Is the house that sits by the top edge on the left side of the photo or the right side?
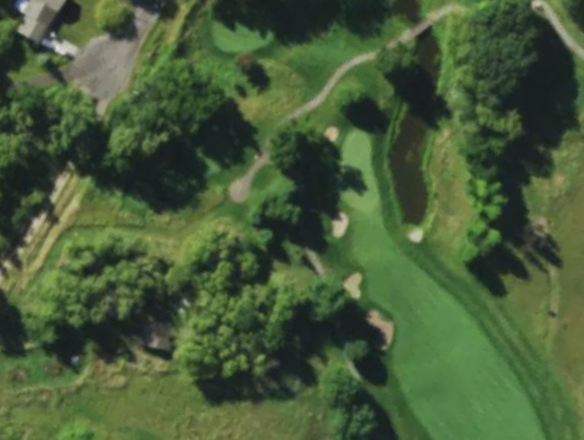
left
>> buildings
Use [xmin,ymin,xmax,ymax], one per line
[147,324,173,348]
[19,0,66,47]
